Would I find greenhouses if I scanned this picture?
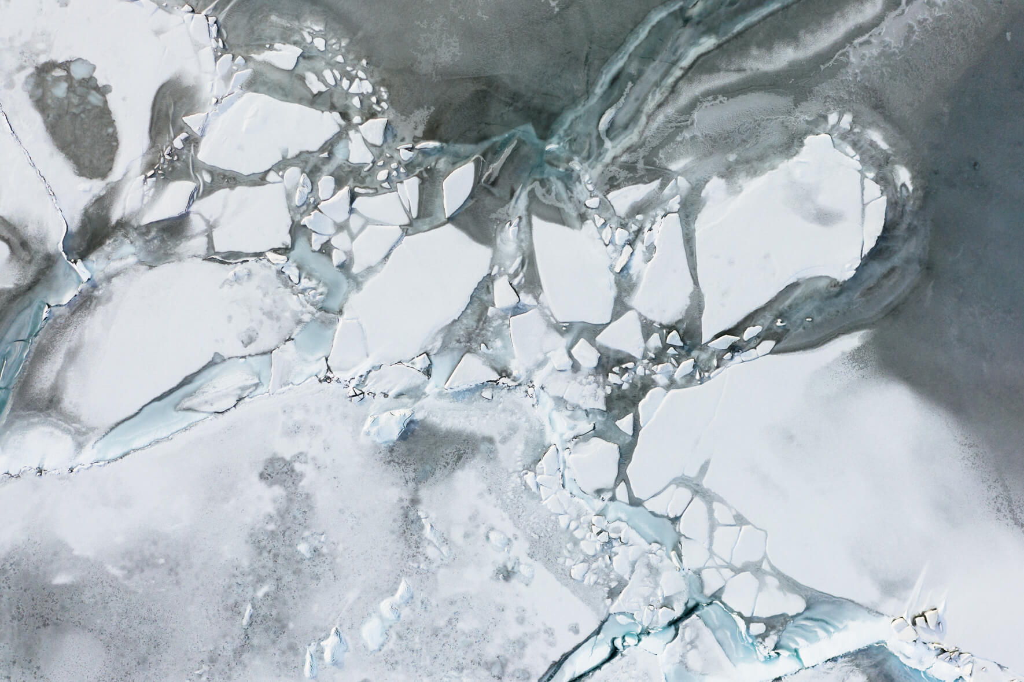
No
